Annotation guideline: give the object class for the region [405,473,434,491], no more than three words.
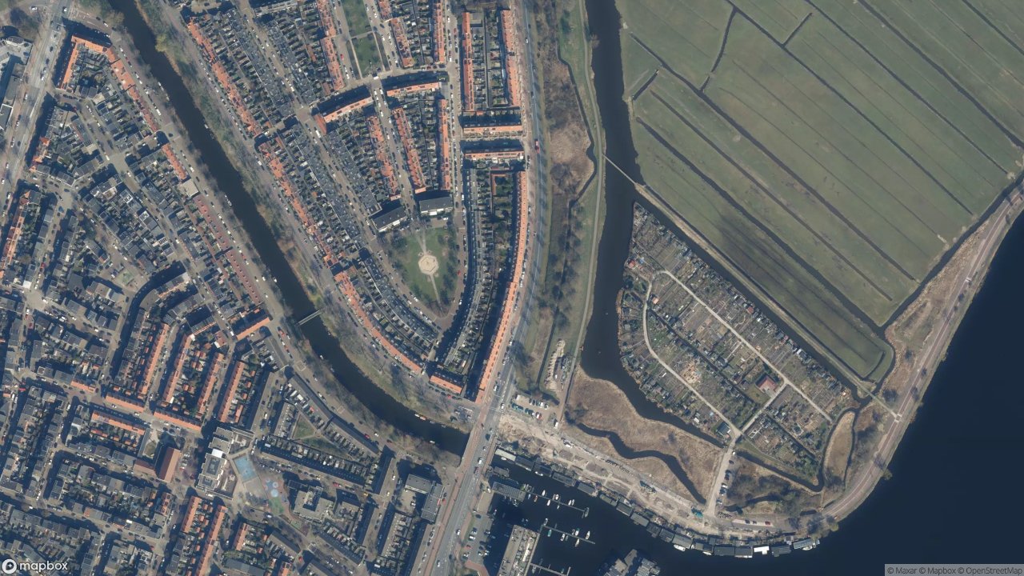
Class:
building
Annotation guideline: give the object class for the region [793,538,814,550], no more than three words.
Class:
boat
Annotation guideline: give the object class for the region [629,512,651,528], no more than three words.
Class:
boat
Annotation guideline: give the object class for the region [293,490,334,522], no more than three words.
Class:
building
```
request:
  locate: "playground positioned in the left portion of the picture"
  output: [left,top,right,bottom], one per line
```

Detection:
[262,474,307,534]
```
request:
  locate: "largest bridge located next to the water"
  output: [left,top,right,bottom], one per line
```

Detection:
[453,424,499,487]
